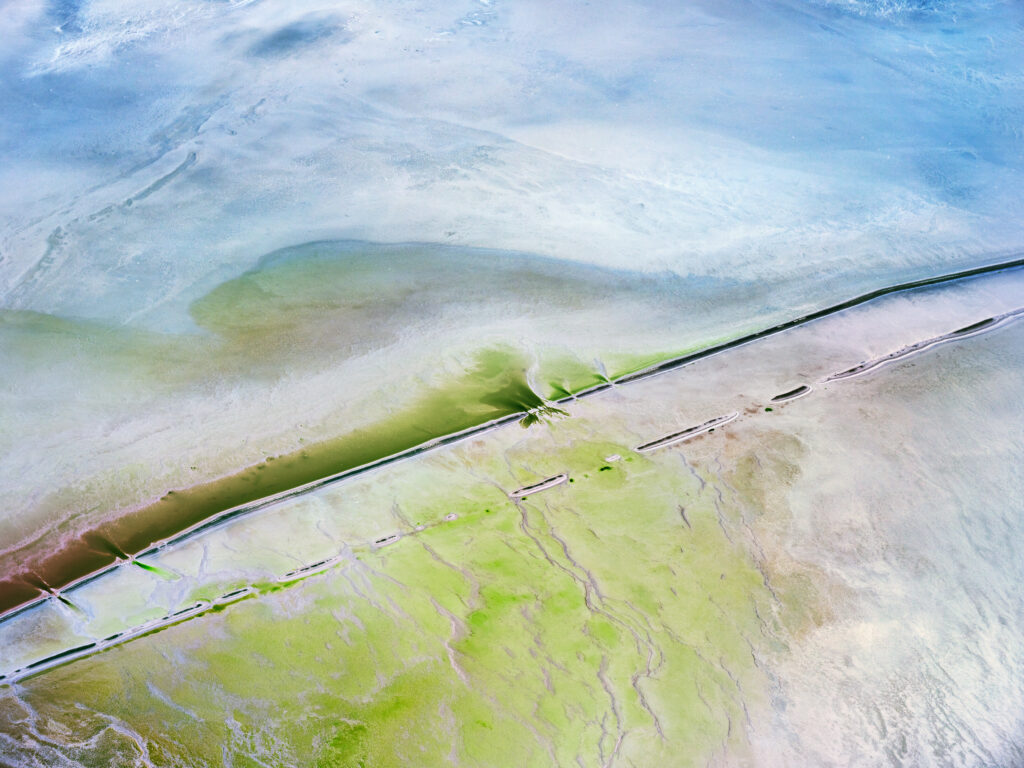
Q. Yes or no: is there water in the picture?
Yes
